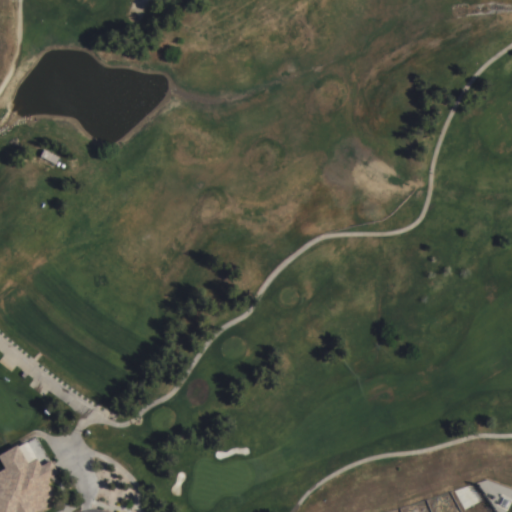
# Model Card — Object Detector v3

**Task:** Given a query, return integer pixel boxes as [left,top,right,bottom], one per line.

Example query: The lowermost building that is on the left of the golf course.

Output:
[0,438,54,512]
